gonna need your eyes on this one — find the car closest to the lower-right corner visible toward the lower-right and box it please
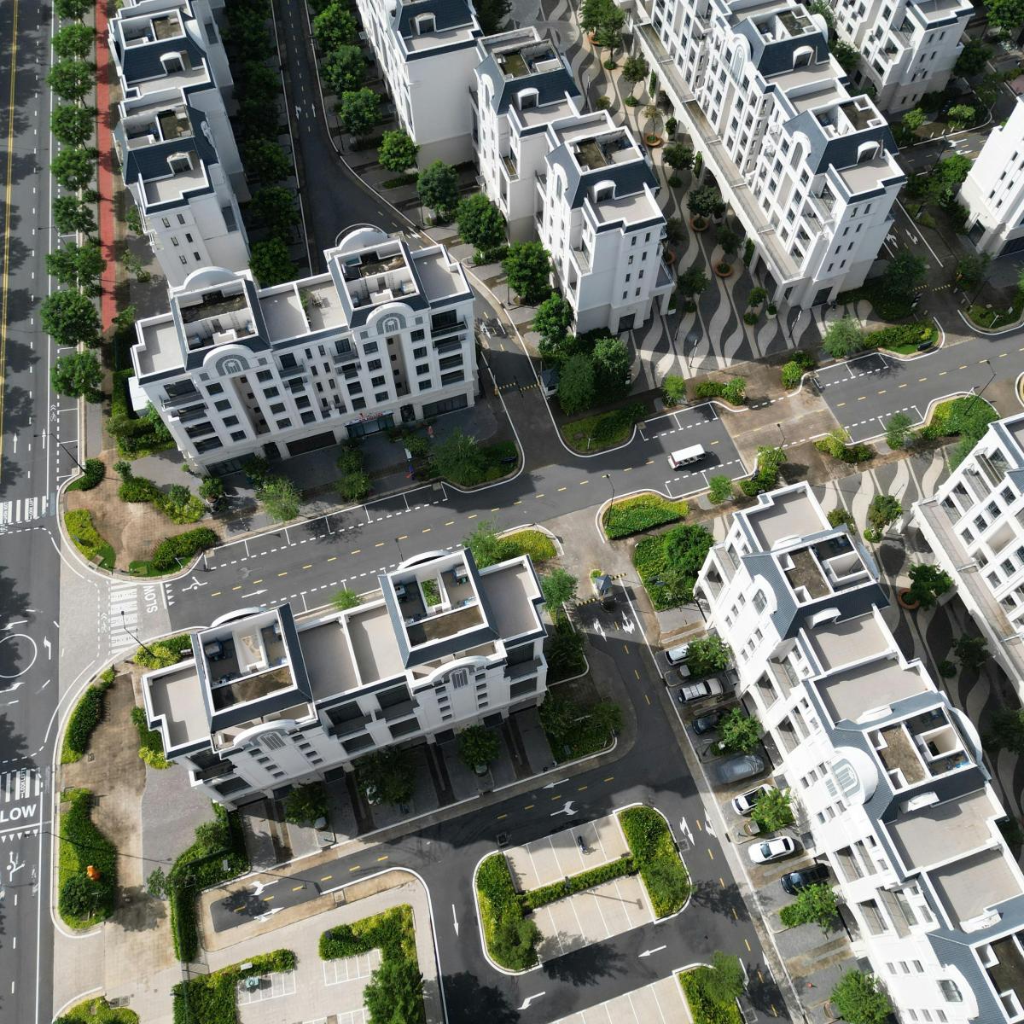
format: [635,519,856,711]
[778,863,829,895]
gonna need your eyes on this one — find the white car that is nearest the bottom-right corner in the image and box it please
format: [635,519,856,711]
[746,835,799,863]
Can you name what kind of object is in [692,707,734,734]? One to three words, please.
car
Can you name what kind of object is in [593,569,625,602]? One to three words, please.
shed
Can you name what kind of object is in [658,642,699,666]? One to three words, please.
car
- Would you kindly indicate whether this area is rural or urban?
urban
